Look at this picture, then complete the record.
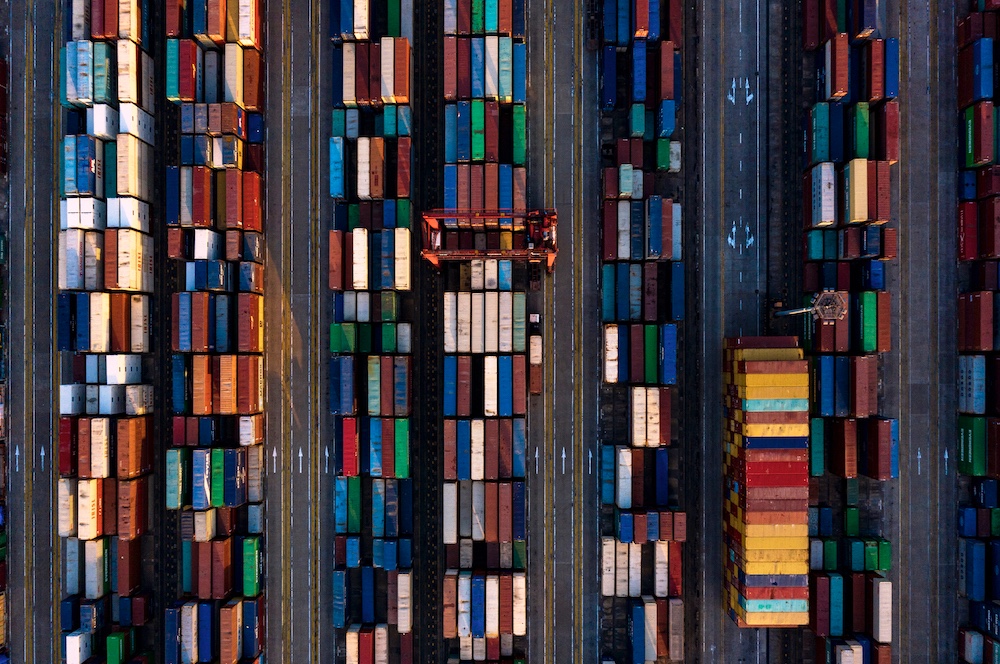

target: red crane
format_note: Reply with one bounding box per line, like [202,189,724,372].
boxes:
[420,211,561,273]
